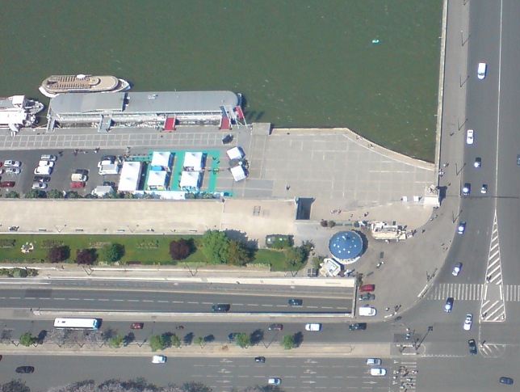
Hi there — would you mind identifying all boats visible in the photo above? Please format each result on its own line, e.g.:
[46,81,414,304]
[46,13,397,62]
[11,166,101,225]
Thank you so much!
[0,111,35,128]
[39,71,130,97]
[0,90,45,114]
